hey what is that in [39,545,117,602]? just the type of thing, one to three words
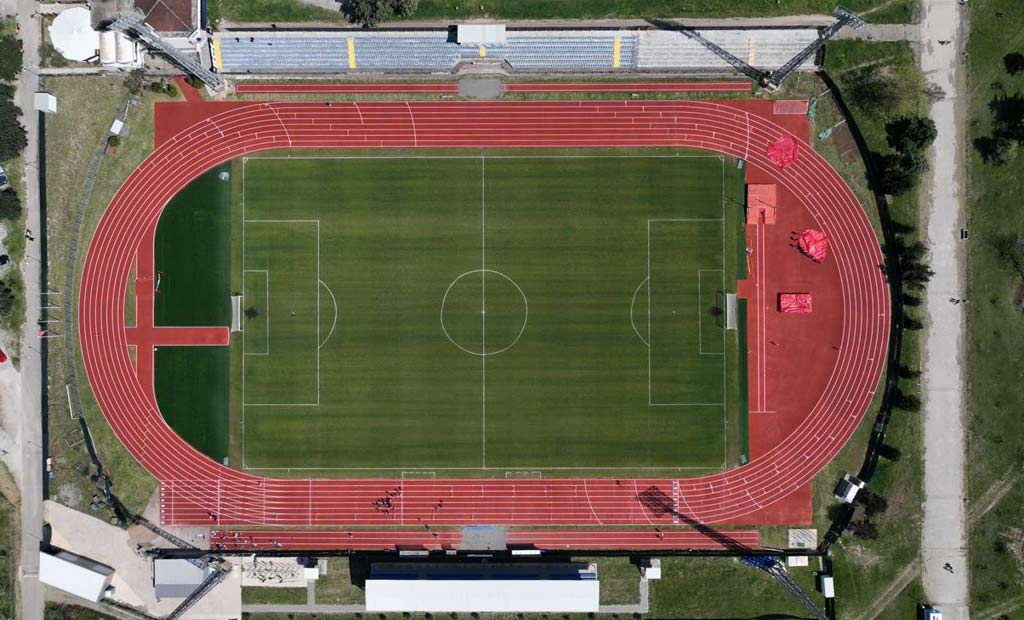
building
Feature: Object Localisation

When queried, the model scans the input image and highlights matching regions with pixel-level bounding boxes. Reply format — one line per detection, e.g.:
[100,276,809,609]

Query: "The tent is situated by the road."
[51,9,104,65]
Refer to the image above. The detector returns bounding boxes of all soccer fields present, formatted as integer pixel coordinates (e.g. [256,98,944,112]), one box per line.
[229,147,739,479]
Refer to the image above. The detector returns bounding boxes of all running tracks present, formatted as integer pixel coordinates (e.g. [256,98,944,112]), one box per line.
[78,77,891,526]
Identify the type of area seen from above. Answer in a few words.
sports ground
